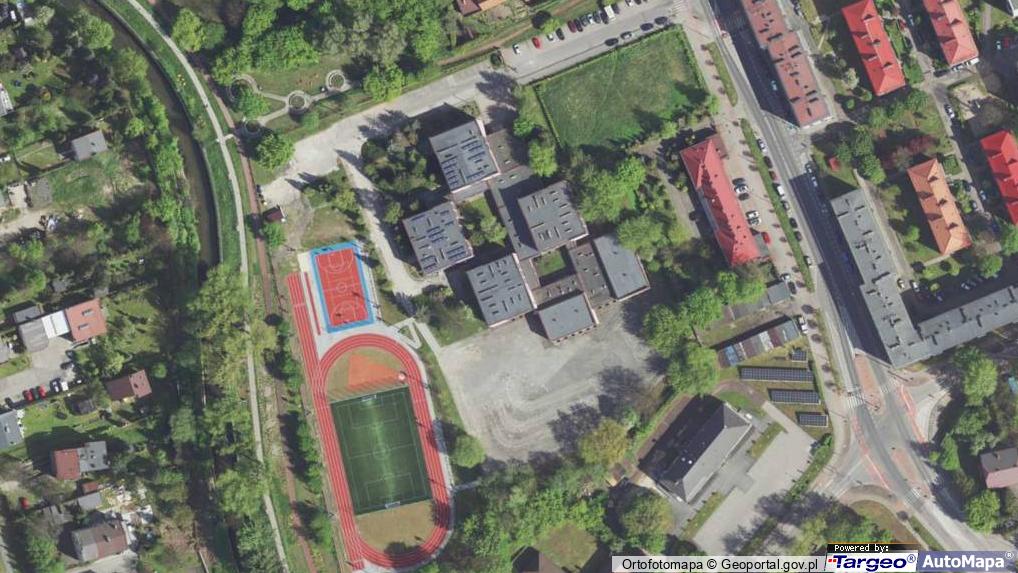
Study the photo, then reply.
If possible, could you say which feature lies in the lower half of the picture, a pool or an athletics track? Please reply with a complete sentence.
There is an athletics track in the lower half of the picture.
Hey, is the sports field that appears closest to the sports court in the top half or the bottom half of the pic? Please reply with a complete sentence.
The sports field that appears closest to the sports court sits in the bottom half of the picture.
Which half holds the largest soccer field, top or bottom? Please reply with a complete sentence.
It is in the bottom half that the largest soccer field appears.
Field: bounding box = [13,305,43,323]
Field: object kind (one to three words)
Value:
shed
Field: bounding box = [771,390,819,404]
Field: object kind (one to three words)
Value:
solar array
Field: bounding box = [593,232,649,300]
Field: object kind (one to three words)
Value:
building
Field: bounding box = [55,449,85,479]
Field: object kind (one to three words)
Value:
house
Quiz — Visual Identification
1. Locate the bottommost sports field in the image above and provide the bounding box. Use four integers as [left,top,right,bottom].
[355,500,435,553]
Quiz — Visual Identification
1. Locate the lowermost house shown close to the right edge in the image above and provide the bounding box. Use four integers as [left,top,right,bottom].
[980,447,1018,488]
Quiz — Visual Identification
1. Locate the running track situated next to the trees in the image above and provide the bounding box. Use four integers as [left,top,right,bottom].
[286,272,450,569]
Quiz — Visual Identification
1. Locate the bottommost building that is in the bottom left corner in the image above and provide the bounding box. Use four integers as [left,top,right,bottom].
[72,520,129,561]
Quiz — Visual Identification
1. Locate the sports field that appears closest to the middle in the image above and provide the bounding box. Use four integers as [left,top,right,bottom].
[326,348,409,403]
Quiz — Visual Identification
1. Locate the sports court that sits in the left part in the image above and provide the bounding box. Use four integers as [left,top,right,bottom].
[311,241,376,332]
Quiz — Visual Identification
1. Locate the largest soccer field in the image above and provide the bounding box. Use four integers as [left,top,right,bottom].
[331,387,431,516]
